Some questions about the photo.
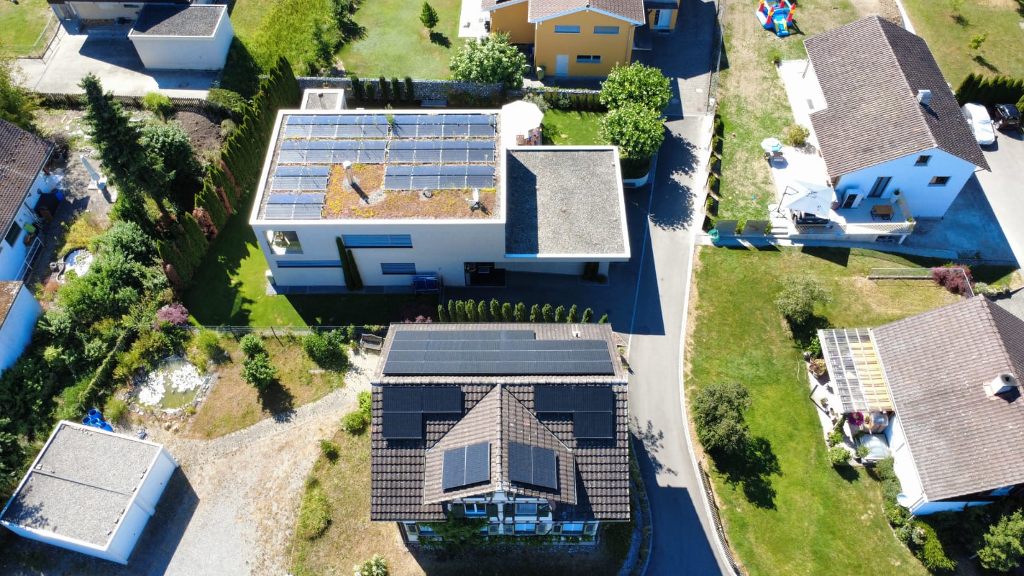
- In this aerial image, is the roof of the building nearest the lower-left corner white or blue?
white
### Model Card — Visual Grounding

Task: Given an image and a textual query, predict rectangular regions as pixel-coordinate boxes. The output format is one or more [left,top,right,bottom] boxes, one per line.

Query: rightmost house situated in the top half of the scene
[796,15,992,223]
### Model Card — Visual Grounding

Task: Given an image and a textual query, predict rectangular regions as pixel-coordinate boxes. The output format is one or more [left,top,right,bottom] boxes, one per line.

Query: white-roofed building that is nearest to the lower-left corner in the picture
[0,422,180,564]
